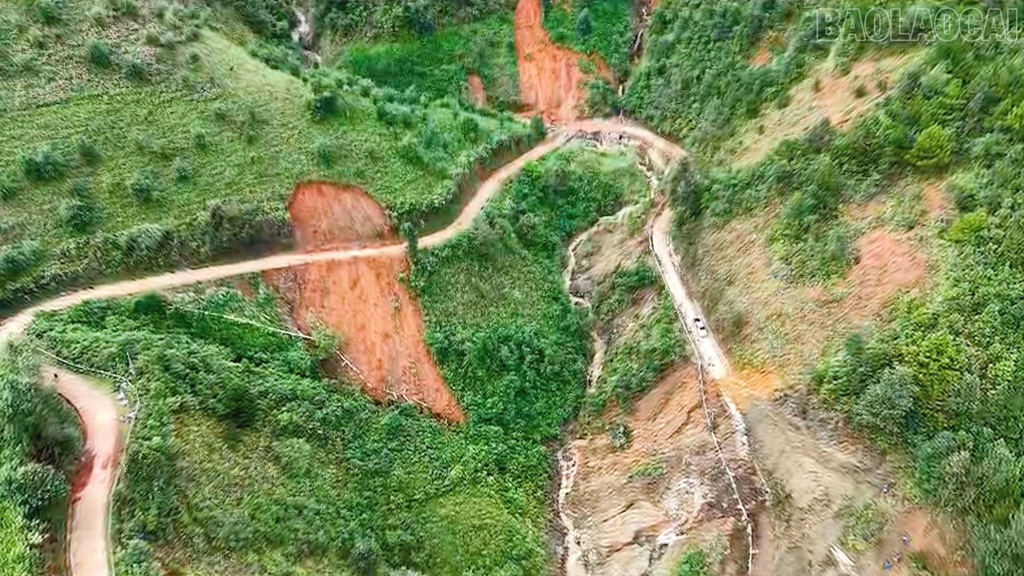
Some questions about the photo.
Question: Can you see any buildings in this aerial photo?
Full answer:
No, this view has no building in it.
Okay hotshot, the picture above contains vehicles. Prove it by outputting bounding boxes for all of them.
[693,313,709,333]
